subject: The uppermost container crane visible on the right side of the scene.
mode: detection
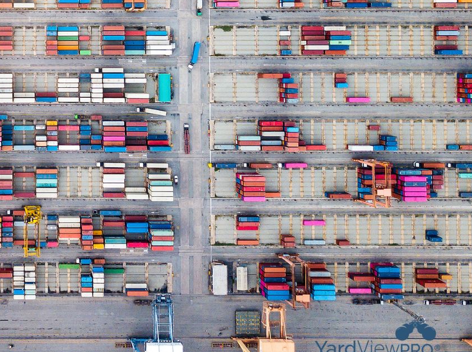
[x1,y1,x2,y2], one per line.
[353,158,393,207]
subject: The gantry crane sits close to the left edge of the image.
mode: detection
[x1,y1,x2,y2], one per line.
[20,206,44,258]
